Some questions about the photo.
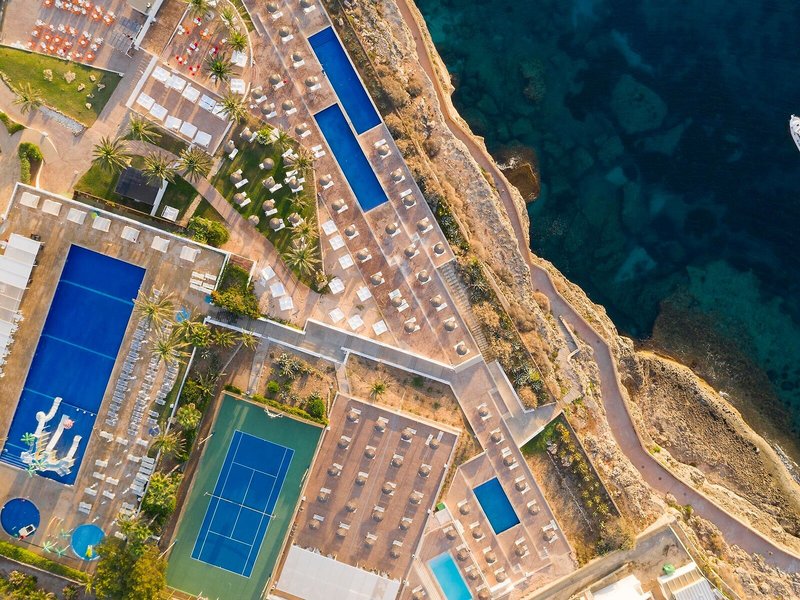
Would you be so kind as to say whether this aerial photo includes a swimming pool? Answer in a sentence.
Yes, a swimming pool appears in the view.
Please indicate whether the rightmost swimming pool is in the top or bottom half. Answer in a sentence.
The rightmost swimming pool sits in the bottom half of the picture.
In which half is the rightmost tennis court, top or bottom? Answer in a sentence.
Seen from above, the rightmost tennis court lies in the bottom half of the view.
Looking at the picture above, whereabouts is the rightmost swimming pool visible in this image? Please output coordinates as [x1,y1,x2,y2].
[471,474,521,536]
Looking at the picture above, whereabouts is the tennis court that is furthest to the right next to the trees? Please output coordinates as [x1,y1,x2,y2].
[167,393,326,600]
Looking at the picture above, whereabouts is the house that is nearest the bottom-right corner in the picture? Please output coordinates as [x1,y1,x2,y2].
[652,555,718,600]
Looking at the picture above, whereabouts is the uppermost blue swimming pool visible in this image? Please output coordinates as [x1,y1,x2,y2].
[307,24,384,136]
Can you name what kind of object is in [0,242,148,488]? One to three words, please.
swimming pool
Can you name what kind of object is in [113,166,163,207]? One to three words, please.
building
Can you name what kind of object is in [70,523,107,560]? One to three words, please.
swimming pool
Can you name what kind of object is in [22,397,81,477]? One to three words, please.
playground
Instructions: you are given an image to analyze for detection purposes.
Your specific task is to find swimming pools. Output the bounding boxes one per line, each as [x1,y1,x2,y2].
[427,550,475,600]
[307,24,384,136]
[0,498,41,538]
[70,523,107,560]
[471,474,521,536]
[312,102,389,213]
[0,242,148,488]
